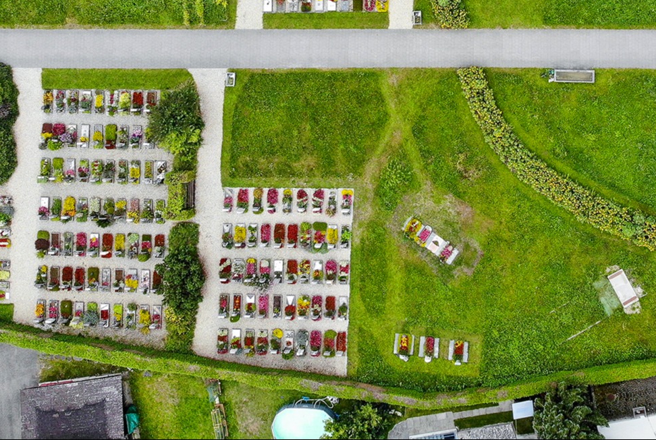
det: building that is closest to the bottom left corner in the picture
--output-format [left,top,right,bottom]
[20,371,124,440]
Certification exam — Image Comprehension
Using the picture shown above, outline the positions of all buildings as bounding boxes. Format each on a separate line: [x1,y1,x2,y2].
[20,371,124,440]
[409,421,517,440]
[596,403,656,440]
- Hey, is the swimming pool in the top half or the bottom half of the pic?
bottom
